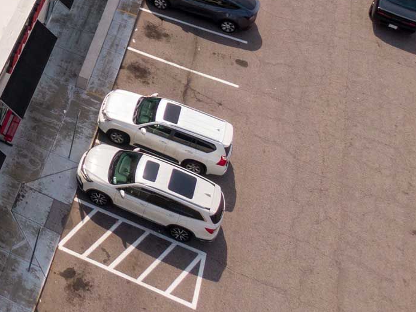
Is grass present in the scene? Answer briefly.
No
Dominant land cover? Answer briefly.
paved ground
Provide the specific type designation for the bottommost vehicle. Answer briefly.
car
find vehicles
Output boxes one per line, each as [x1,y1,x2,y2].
[369,0,416,35]
[75,152,227,249]
[147,0,261,36]
[97,94,235,174]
